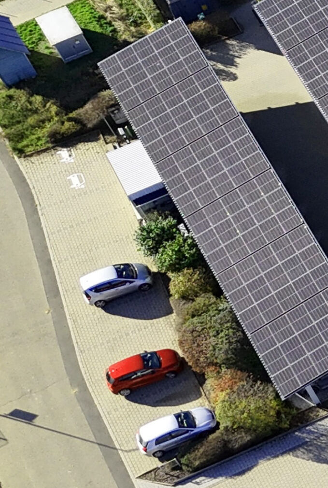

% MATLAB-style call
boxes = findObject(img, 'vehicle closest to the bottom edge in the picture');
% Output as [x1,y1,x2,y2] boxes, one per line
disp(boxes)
[135,407,215,456]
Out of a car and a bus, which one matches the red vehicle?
car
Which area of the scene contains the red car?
bottom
